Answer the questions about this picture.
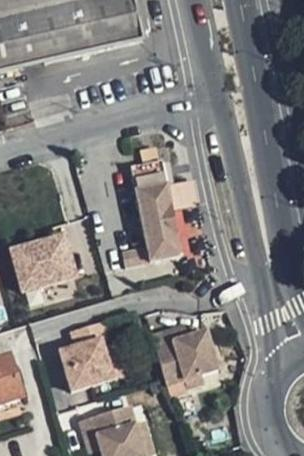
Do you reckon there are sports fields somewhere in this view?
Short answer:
No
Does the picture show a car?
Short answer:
Yes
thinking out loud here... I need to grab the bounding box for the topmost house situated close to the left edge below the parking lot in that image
[10,232,84,309]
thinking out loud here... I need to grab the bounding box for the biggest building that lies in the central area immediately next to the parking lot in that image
[123,146,200,268]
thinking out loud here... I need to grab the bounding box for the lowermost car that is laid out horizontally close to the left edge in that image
[8,154,32,168]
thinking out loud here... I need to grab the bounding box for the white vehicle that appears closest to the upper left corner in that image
[0,88,22,101]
